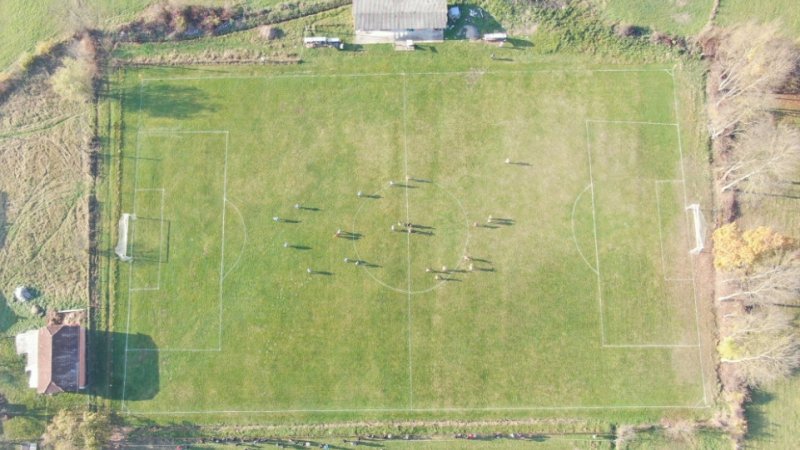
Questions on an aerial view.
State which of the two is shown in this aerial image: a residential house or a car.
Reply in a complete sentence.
I can see a residential house in this picture.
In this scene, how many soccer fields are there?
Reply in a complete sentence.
Altogether the scene contains 1 soccer field.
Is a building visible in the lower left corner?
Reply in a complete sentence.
Yes, you'll find a building in the lower left corner.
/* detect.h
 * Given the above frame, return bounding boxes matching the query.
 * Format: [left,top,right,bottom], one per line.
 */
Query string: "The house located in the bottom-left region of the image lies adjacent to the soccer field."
[16,325,90,395]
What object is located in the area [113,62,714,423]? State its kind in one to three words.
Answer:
soccer field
